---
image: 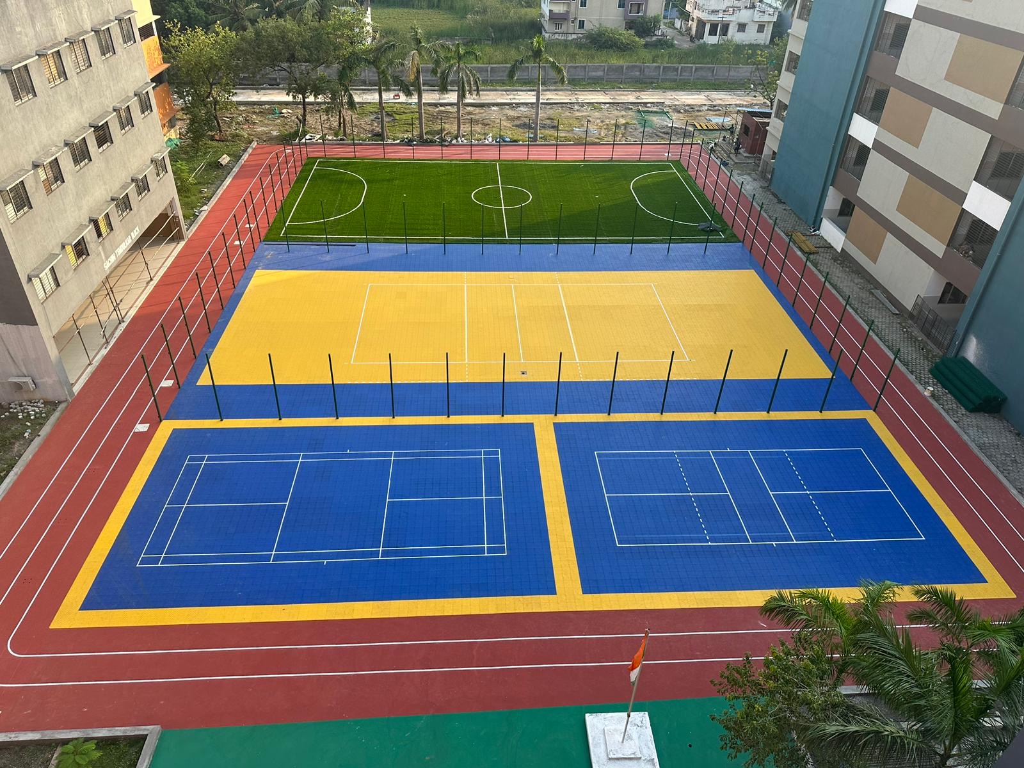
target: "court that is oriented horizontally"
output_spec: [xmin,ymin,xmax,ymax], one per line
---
[163,242,873,421]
